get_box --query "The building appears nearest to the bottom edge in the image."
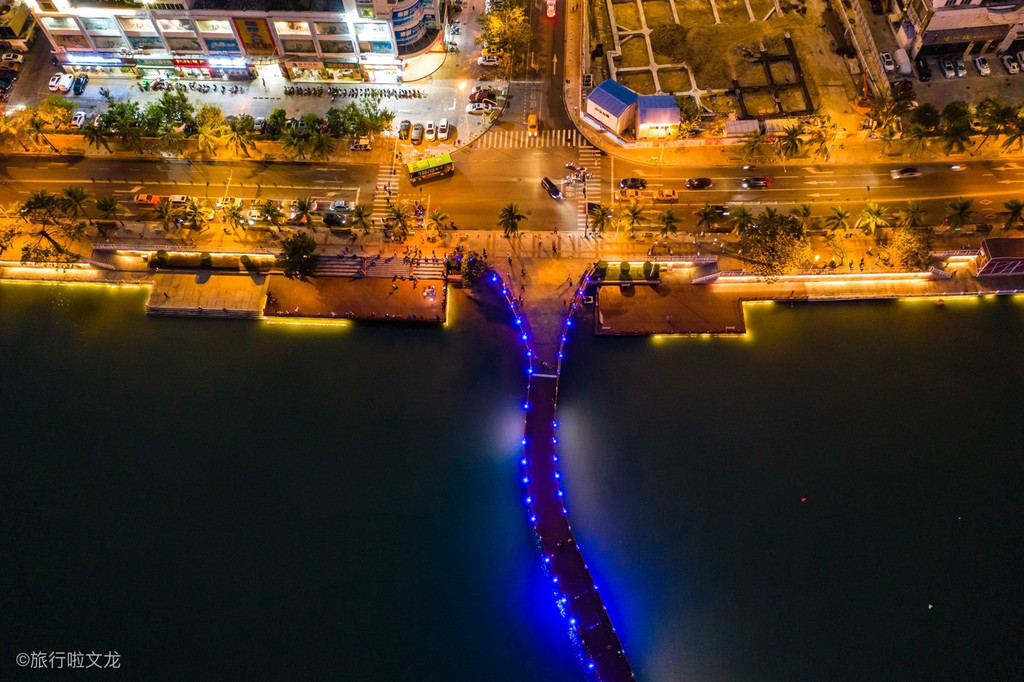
[976,235,1024,279]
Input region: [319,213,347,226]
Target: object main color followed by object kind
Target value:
black vehicle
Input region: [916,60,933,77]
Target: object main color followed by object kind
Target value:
black car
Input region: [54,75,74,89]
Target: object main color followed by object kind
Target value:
white vehicle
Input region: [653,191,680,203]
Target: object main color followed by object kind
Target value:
yellow vehicle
